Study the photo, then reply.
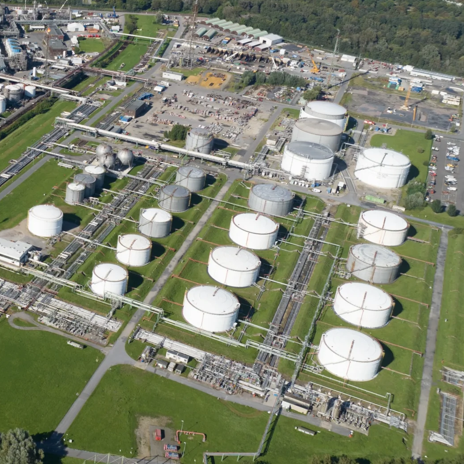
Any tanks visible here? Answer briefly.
Yes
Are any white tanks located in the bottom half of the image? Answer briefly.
Yes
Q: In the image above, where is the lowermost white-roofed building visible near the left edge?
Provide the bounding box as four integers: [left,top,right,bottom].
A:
[0,236,32,267]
